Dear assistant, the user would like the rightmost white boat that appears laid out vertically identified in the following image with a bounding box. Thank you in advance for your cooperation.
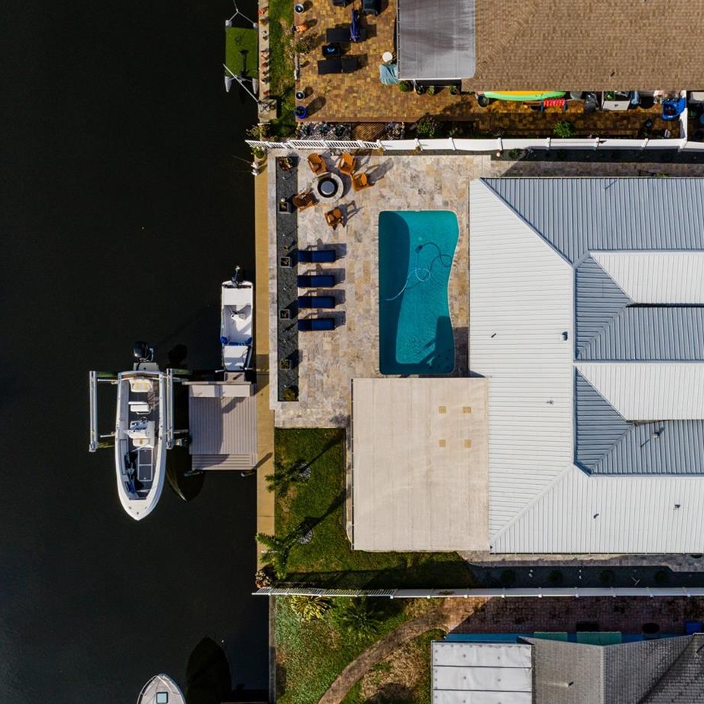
[215,267,255,373]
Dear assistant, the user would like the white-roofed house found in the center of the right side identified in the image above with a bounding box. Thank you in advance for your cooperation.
[471,175,704,556]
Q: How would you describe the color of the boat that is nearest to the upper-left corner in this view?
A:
green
